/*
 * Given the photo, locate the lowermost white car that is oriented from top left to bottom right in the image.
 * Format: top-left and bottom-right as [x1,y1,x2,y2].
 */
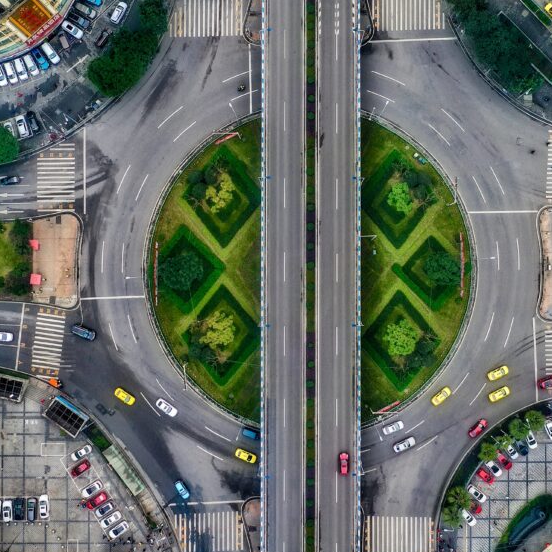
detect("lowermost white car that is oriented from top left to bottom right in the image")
[458,507,478,526]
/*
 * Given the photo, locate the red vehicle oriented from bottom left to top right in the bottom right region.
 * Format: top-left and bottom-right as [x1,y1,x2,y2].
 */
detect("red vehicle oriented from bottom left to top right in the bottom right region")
[466,418,489,438]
